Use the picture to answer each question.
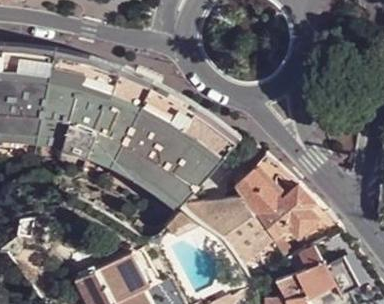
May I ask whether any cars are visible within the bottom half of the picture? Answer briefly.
No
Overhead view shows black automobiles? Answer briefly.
No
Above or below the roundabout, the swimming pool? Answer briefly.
below it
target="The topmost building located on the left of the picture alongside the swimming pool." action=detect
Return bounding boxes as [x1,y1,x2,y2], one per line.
[0,45,240,212]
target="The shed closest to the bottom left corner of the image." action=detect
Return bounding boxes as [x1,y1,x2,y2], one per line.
[18,216,37,238]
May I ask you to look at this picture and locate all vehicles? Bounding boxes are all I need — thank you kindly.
[185,70,206,94]
[30,28,58,40]
[206,87,230,107]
